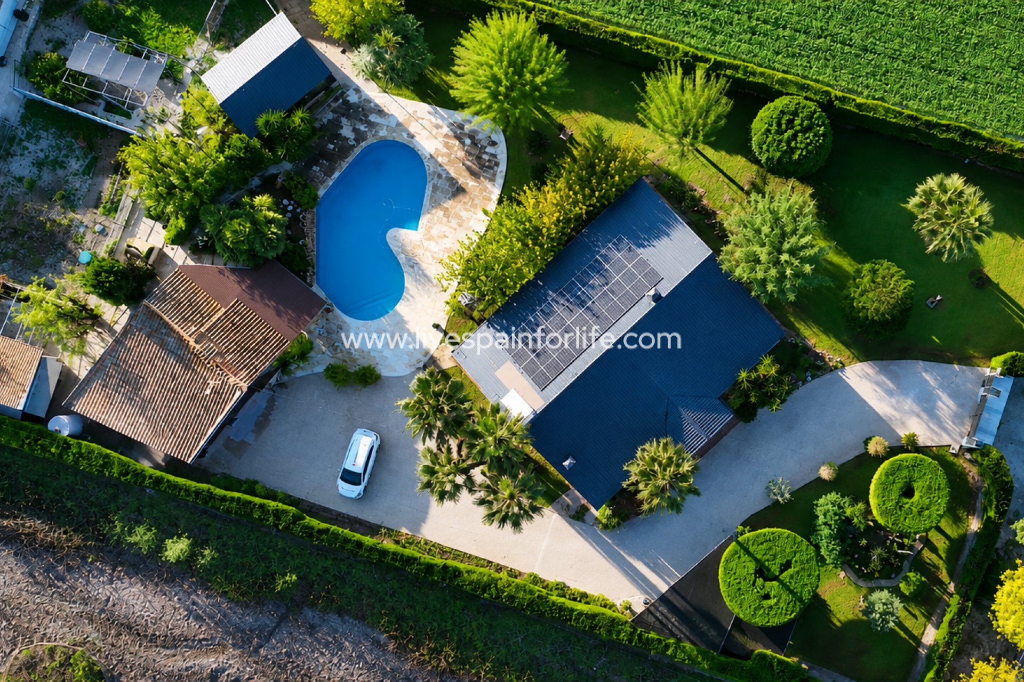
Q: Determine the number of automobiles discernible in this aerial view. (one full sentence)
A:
The picture shows 1 automobile.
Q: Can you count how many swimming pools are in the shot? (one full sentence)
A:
The count comes to 1 swimming pool.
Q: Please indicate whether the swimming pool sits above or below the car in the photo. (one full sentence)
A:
The swimming pool appears above the car in the picture.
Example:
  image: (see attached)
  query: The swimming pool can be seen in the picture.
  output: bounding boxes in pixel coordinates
[311,135,432,325]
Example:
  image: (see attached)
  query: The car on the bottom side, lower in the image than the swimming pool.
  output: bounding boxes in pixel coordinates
[334,430,380,501]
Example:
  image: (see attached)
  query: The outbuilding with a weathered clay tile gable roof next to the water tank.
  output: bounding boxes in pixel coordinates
[61,259,332,464]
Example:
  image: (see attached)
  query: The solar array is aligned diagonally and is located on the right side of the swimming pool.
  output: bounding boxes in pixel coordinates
[504,236,662,394]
